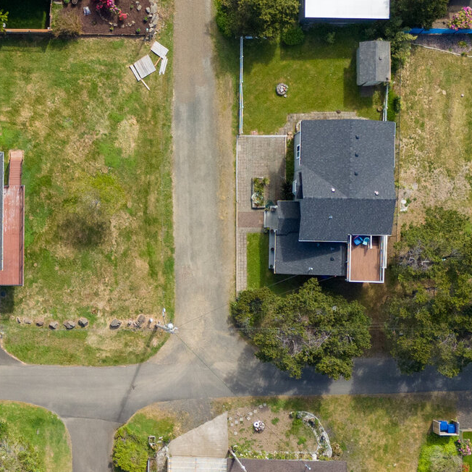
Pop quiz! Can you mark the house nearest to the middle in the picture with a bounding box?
[264,119,396,283]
